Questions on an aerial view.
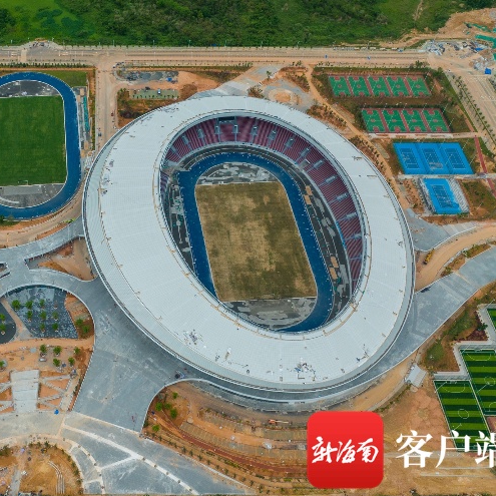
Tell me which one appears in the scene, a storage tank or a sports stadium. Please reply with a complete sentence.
Of the two, only a sports stadium appears.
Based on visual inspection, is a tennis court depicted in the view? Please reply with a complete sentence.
Yes, the picture does show a tennis court.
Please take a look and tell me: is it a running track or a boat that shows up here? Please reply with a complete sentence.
The image shows a running track.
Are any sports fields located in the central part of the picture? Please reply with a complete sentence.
Yes, a sports field can be seen in the central part of the picture.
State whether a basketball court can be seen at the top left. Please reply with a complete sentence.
No, there's no basketball court to be seen at the top left.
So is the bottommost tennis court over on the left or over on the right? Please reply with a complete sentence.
You can find the bottommost tennis court on the right side of the picture.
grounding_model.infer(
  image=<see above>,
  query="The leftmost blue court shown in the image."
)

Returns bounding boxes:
[393,143,429,174]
